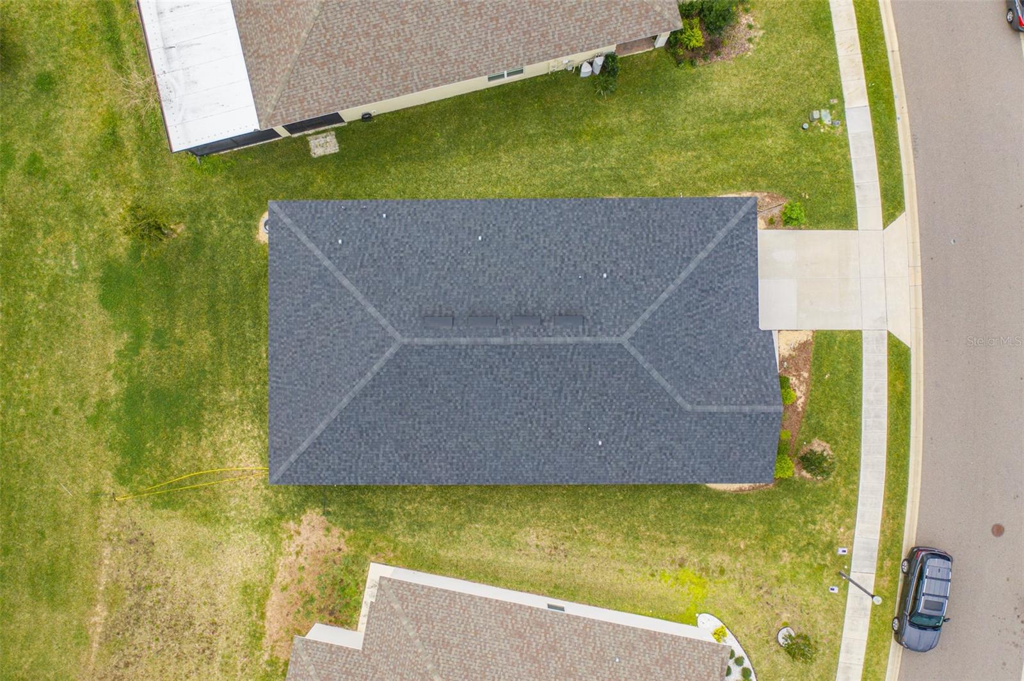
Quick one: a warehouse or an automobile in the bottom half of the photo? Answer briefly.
automobile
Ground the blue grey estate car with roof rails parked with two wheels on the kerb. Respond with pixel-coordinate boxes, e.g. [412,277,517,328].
[889,544,955,654]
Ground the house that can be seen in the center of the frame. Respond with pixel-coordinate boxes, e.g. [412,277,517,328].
[267,196,783,485]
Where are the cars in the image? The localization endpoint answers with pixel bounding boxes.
[889,544,955,654]
[1004,0,1024,38]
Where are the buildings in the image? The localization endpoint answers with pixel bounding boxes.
[285,565,730,681]
[267,196,783,485]
[133,0,683,168]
